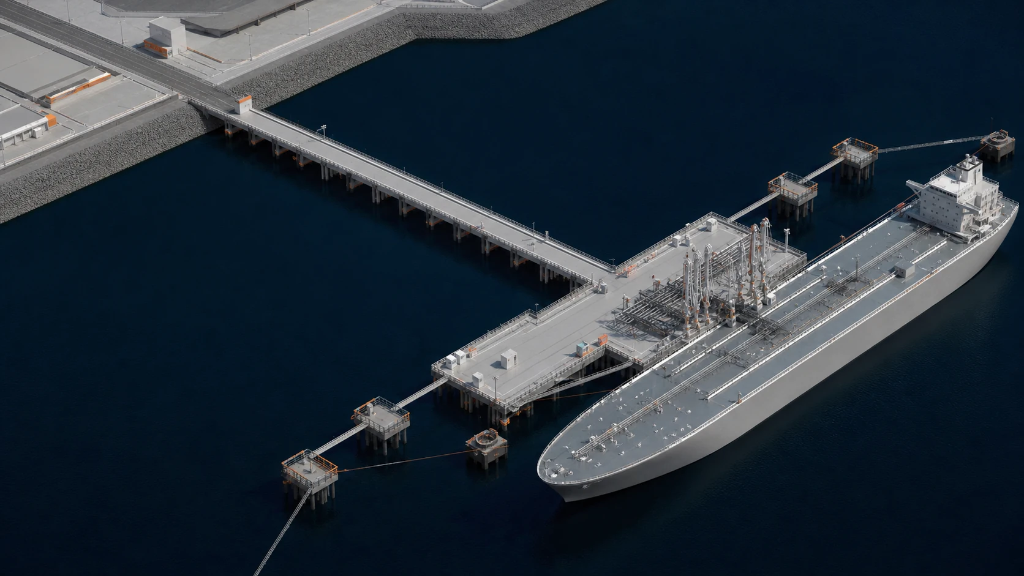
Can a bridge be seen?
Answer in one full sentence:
Yes, a bridge is visible in the scene.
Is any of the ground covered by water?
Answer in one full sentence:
Yes, there's water in this view.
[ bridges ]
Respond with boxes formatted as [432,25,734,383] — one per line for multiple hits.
[178,85,616,295]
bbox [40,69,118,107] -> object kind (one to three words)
shed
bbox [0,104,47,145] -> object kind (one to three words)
building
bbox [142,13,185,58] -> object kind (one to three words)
building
